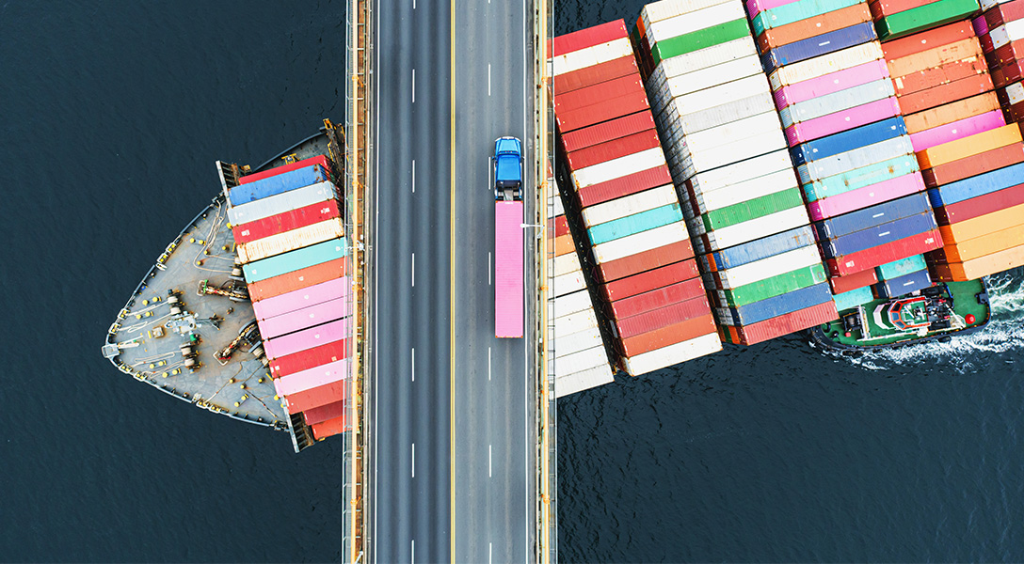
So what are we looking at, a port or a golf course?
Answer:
port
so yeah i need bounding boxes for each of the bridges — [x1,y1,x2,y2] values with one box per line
[342,0,558,564]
